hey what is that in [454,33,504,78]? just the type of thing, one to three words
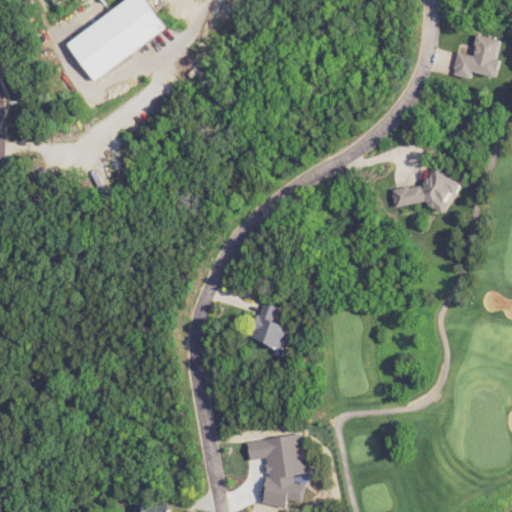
house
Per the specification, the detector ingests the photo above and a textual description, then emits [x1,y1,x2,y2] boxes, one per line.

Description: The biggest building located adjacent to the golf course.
[247,433,306,508]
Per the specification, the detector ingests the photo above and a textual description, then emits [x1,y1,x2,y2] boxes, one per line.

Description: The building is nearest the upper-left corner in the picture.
[66,0,165,80]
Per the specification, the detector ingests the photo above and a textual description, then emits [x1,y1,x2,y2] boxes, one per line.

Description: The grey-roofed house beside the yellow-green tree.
[252,303,285,349]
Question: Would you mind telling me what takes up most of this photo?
trees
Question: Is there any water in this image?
No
